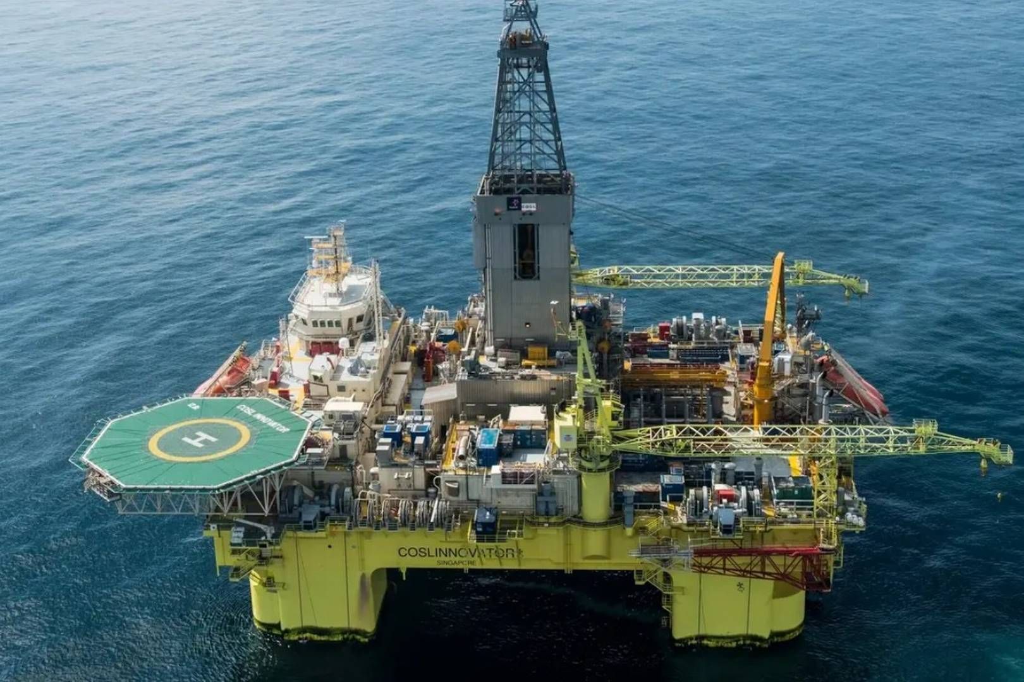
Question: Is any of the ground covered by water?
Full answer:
Yes, water shows up in the scene.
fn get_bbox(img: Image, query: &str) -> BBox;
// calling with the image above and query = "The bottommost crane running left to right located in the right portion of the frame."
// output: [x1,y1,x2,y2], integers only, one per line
[547,317,1018,532]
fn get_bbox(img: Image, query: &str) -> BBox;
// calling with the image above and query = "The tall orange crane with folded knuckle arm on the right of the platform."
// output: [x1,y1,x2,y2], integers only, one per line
[752,247,788,440]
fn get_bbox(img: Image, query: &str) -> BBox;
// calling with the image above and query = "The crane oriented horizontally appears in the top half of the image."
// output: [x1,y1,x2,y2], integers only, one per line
[572,234,873,306]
